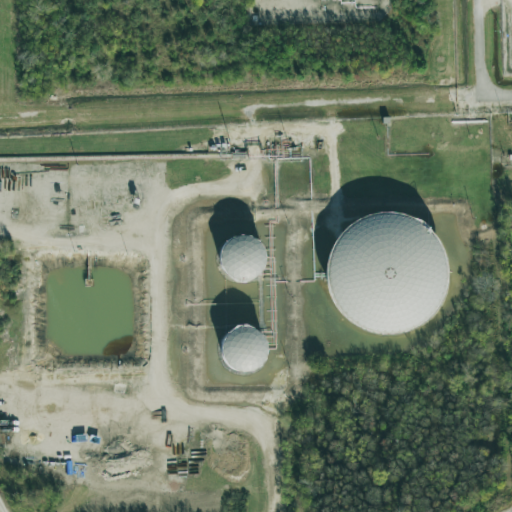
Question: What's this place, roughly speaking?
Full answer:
It's an industrial area.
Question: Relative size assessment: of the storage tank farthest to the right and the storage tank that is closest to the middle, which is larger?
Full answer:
The storage tank that is closest to the middle is smaller than the storage tank farthest to the right.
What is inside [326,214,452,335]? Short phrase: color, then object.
white storage tank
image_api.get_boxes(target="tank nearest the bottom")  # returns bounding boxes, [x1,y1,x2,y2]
[220,326,270,374]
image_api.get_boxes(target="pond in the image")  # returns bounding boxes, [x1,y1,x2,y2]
[45,264,135,357]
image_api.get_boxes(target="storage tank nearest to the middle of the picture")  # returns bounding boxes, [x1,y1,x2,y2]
[218,236,268,284]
